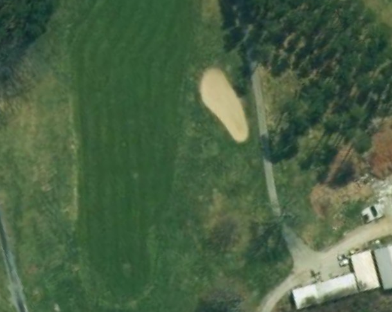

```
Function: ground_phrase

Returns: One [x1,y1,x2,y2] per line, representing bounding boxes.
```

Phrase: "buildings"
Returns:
[292,274,359,310]
[352,251,381,293]
[375,247,392,290]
